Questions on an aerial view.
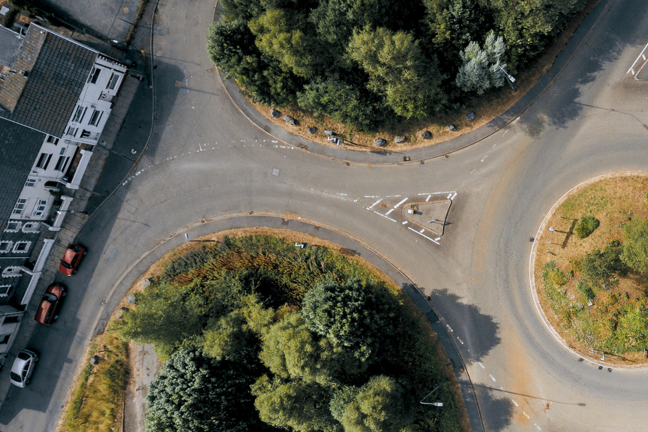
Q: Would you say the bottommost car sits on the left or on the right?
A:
left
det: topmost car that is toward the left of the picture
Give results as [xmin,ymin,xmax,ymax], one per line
[59,240,90,278]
